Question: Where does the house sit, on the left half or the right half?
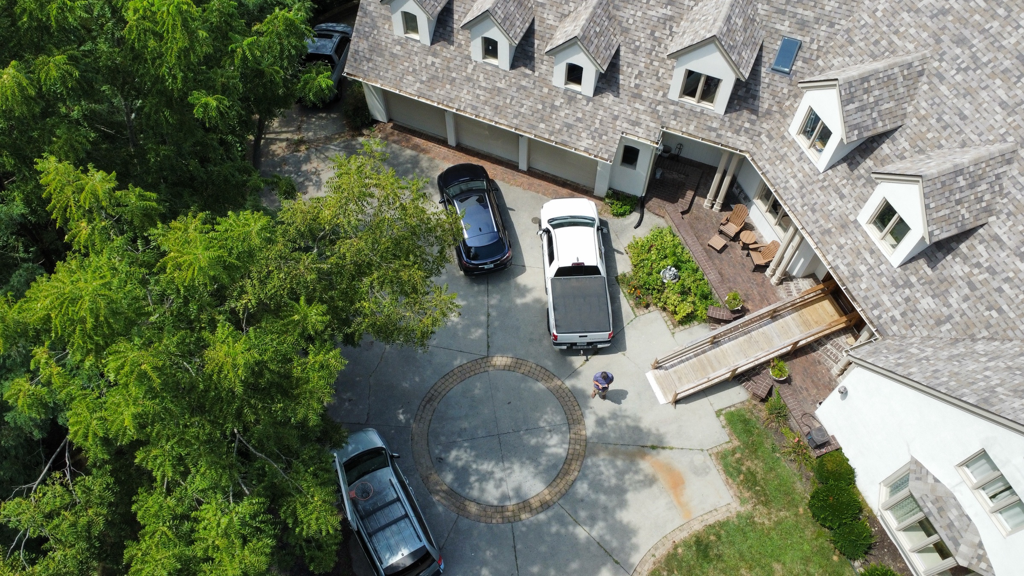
right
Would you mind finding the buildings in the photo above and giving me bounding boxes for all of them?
[344,0,1024,576]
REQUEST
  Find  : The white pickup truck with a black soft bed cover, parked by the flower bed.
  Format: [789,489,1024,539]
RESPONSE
[538,198,616,360]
